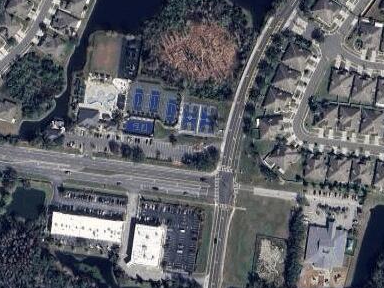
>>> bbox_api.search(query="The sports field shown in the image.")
[89,32,121,76]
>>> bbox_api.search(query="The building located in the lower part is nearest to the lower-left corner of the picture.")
[51,212,123,242]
